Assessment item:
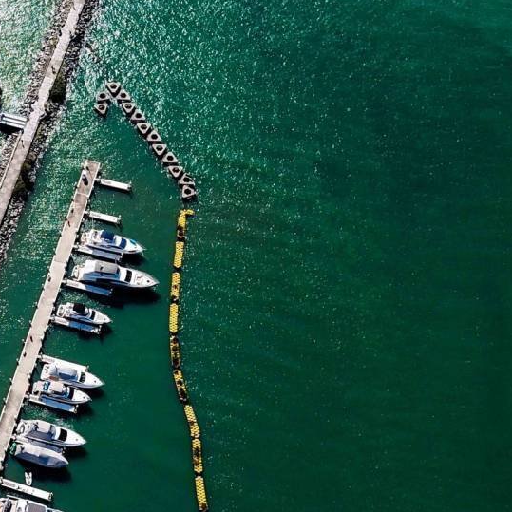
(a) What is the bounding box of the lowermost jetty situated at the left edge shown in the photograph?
[0,477,53,500]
